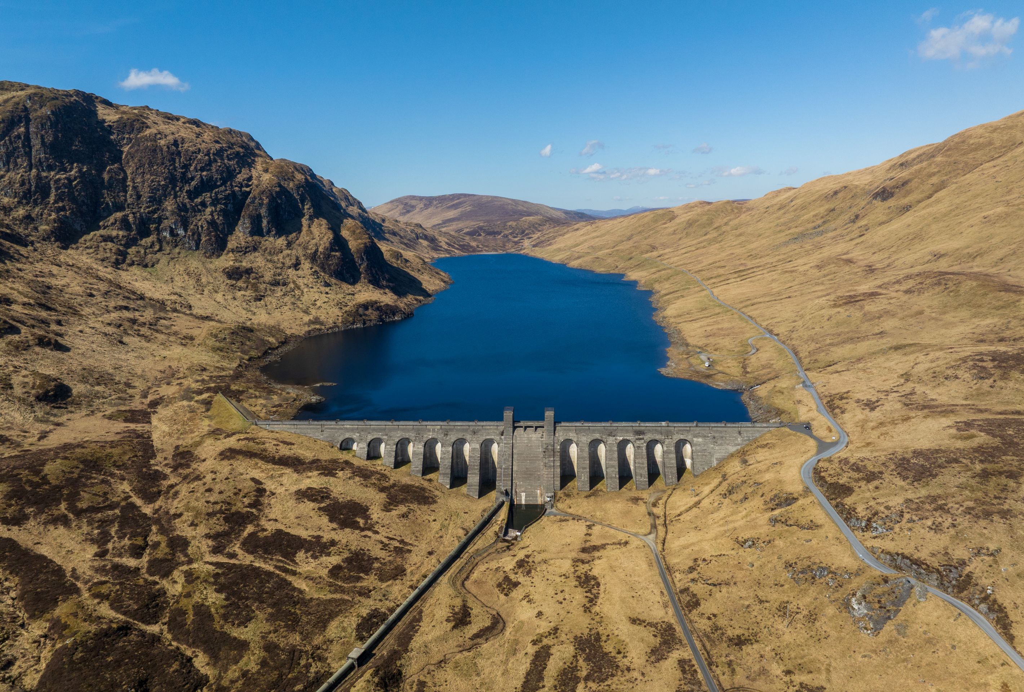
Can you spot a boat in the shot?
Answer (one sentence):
No, the photo shows no boat.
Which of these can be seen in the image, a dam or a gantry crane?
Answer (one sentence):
There is a dam in the scene.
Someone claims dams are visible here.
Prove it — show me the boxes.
[250,407,784,507]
